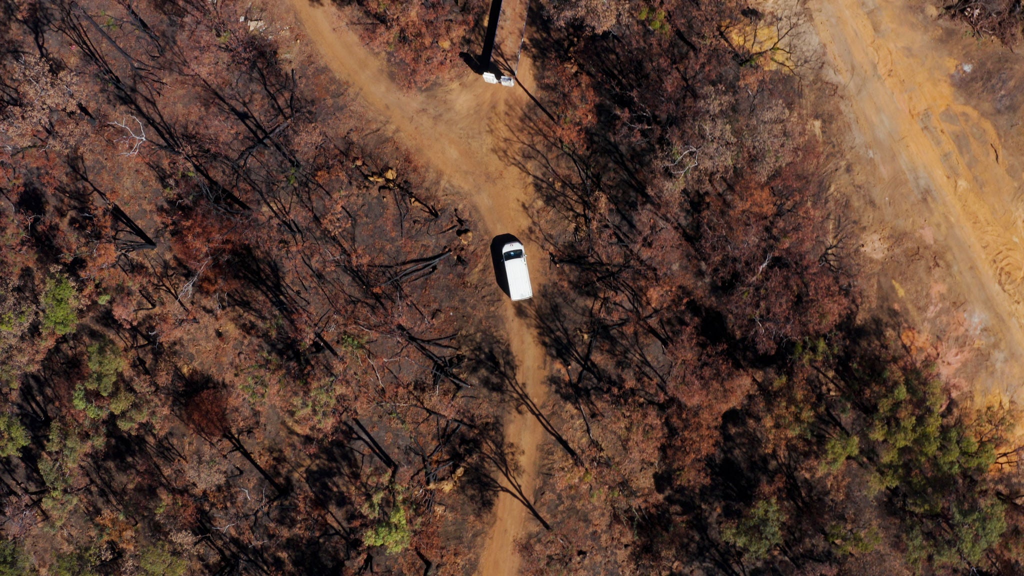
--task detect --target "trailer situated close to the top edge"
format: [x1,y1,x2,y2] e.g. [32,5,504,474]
[482,0,531,86]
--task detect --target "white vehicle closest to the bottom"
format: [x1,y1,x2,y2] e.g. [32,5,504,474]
[500,241,533,302]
